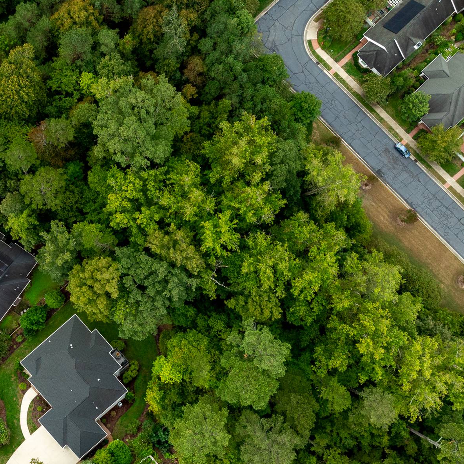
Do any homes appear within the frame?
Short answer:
Yes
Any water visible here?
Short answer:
No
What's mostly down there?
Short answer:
trees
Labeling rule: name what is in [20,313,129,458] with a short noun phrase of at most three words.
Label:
house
